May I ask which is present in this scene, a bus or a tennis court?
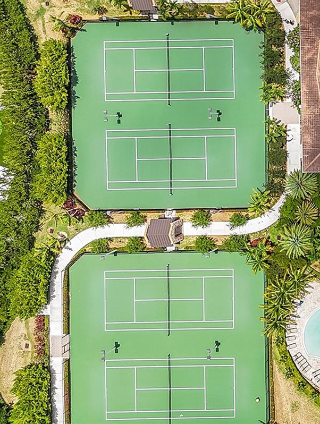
tennis court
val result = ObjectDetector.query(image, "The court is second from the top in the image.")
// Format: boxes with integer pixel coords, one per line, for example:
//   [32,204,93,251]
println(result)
[73,113,267,210]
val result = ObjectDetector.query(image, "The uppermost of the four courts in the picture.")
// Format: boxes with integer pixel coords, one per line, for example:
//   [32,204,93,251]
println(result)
[72,21,266,115]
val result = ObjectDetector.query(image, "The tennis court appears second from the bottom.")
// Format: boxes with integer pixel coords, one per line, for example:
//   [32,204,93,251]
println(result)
[69,252,266,345]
